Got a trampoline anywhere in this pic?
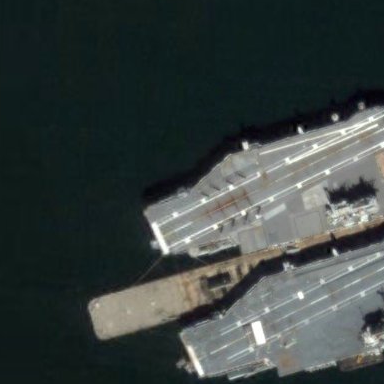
No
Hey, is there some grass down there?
No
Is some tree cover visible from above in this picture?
No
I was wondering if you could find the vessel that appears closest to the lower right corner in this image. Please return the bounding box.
[339,352,383,373]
